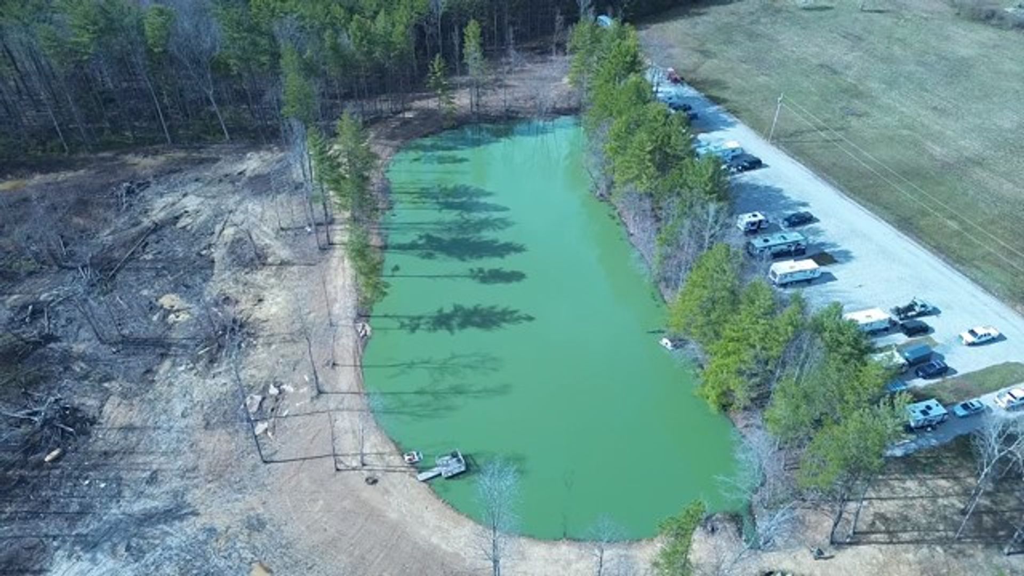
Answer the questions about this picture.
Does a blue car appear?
Yes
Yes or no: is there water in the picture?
Yes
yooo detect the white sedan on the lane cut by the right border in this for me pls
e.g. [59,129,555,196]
[997,386,1024,409]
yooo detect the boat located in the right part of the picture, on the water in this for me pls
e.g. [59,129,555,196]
[657,336,679,350]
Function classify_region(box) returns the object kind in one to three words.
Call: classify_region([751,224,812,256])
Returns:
camper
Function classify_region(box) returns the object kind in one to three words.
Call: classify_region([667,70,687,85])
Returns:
work vehicle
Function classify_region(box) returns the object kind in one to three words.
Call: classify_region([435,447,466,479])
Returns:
pier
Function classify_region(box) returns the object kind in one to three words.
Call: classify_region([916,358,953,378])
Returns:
car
